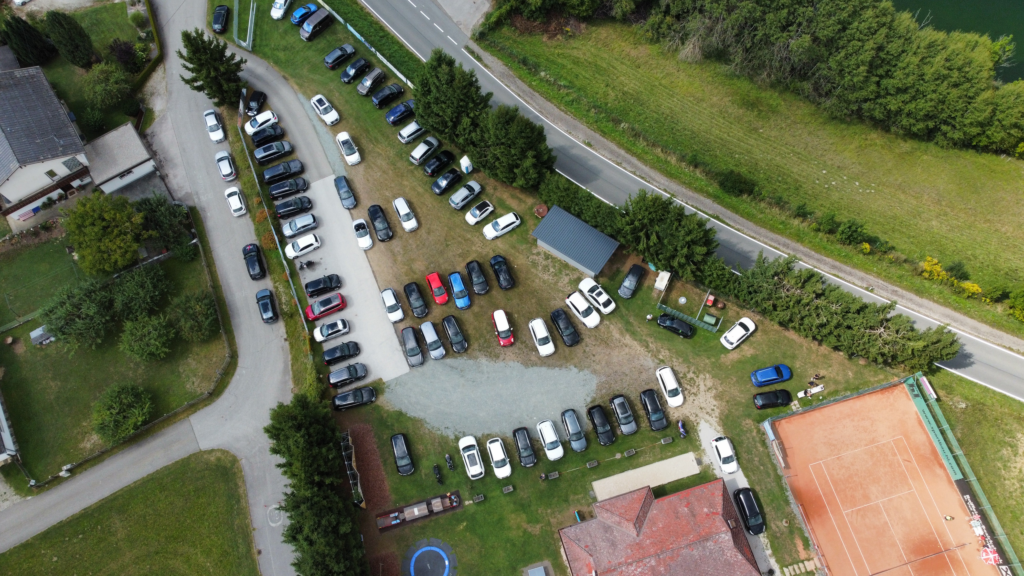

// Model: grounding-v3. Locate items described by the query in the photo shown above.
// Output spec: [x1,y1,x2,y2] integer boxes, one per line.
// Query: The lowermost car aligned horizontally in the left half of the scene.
[332,386,377,412]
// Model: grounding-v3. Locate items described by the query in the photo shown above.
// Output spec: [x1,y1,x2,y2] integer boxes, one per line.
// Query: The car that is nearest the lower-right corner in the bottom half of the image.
[735,487,765,535]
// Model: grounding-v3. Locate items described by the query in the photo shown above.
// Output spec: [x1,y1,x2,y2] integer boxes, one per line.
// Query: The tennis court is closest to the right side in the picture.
[769,383,1000,576]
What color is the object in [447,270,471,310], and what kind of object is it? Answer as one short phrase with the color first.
blue car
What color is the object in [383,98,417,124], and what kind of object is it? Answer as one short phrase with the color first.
blue car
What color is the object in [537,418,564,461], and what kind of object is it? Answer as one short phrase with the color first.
white car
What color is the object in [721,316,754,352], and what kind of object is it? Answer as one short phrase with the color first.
white car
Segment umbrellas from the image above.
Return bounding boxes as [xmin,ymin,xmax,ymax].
[964,515,981,522]
[976,547,1000,568]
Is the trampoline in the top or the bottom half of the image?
bottom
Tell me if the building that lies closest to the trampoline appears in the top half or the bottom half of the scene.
bottom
